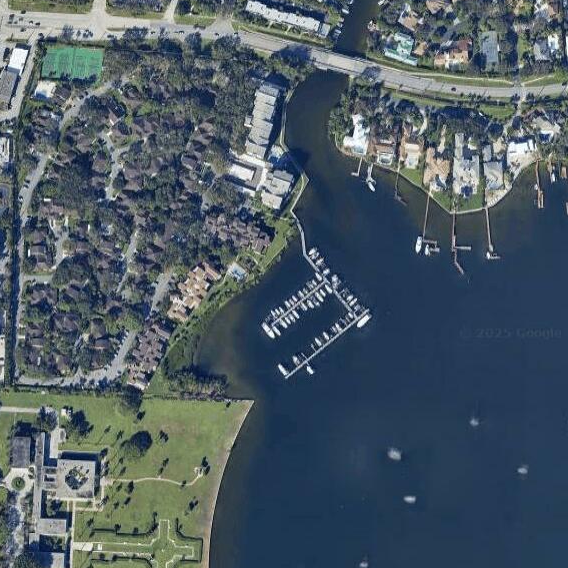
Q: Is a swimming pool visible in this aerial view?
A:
Yes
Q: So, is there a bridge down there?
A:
Yes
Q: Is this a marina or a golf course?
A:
marina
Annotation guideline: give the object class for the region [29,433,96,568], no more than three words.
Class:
house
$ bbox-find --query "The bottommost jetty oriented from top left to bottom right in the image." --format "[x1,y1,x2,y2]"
[295,217,360,318]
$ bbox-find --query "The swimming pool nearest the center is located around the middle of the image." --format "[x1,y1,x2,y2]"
[225,260,251,284]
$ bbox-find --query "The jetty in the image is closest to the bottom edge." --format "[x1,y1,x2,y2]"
[284,309,370,380]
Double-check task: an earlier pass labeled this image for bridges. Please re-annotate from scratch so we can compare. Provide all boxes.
[306,43,372,81]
